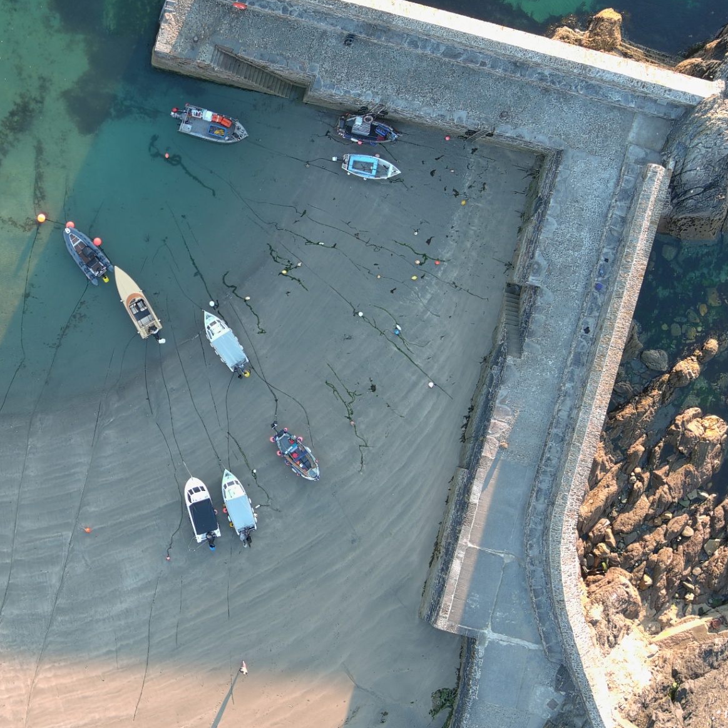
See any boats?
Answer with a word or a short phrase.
Yes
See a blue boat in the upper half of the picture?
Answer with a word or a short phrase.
Yes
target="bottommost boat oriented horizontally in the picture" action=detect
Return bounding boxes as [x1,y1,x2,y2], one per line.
[329,153,401,178]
